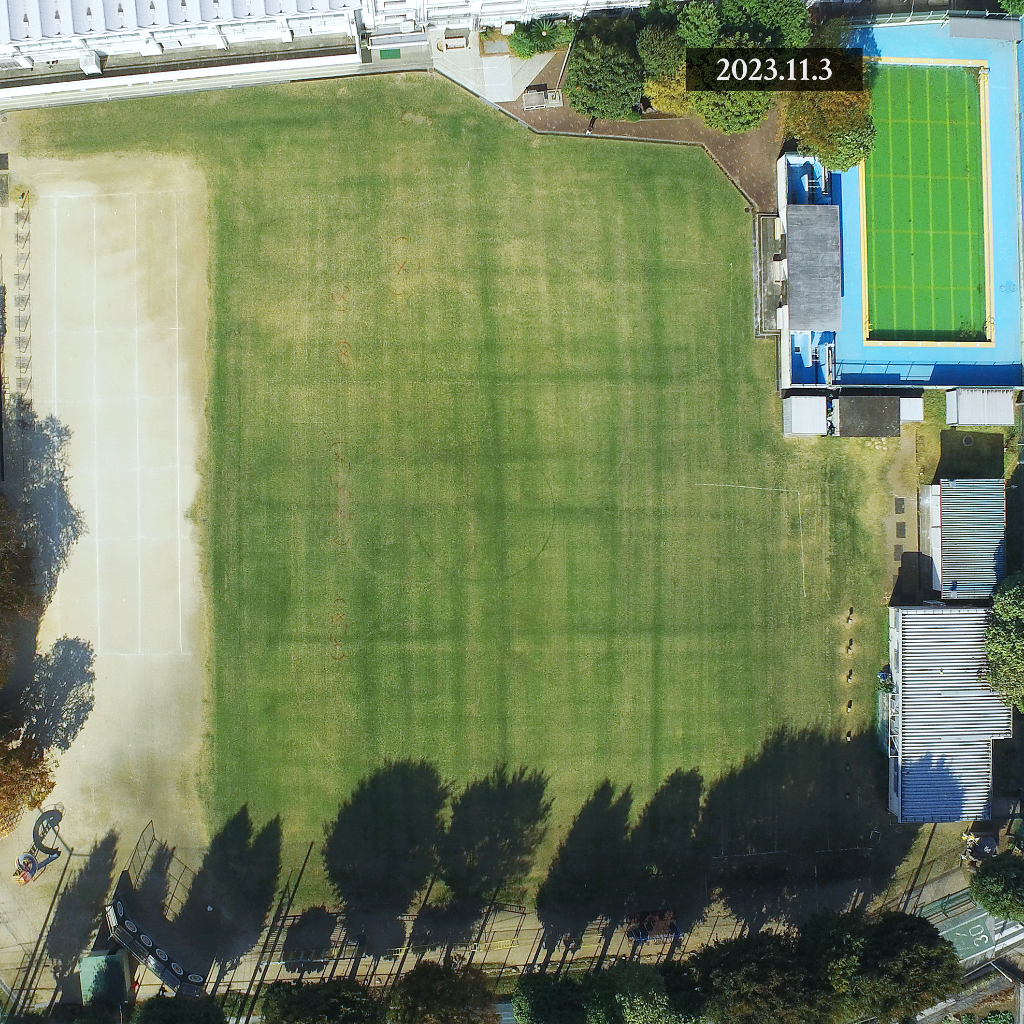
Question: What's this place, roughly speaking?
sports ground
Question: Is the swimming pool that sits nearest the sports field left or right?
right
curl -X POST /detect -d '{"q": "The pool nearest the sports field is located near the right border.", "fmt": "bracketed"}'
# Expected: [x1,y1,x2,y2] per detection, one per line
[782,18,1024,389]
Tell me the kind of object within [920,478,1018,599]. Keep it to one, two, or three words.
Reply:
building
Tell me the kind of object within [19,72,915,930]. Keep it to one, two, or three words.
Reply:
sports field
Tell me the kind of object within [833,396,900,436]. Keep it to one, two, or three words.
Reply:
shed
